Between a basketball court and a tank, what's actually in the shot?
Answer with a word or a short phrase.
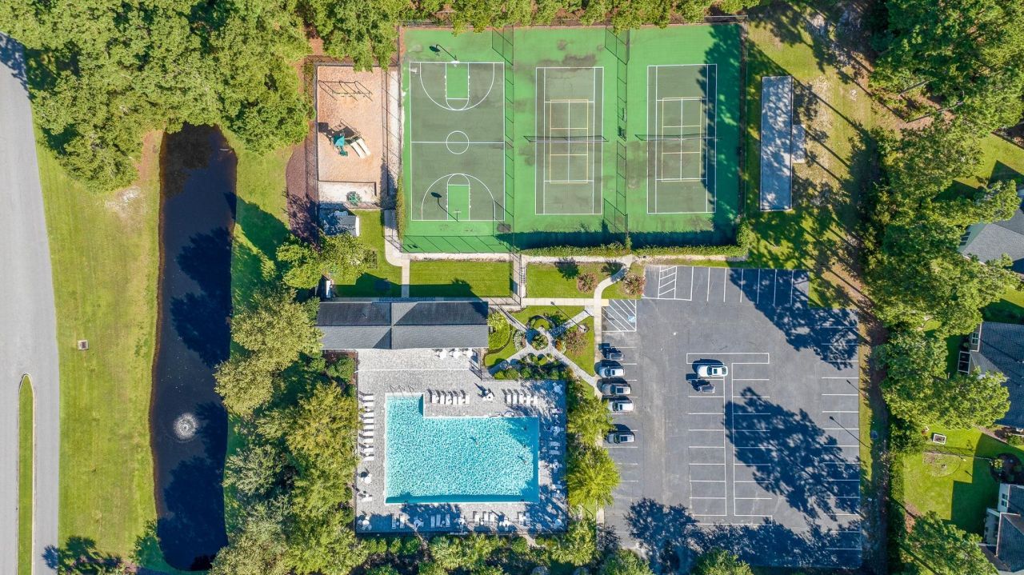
basketball court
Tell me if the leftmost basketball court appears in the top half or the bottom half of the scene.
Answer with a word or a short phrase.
top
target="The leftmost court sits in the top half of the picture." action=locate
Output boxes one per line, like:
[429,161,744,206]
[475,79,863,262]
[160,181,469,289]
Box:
[409,62,505,221]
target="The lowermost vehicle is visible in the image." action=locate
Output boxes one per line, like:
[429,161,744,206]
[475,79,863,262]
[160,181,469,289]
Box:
[607,433,637,447]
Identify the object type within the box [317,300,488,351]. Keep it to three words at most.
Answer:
building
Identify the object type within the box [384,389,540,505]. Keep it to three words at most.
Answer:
swimming pool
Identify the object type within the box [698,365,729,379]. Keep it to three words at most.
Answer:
car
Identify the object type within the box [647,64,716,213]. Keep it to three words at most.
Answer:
tennis court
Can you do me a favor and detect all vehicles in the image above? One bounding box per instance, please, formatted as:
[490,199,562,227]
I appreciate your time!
[700,386,718,395]
[602,383,633,398]
[600,367,626,380]
[607,433,637,447]
[608,353,625,362]
[698,365,729,379]
[608,400,637,415]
